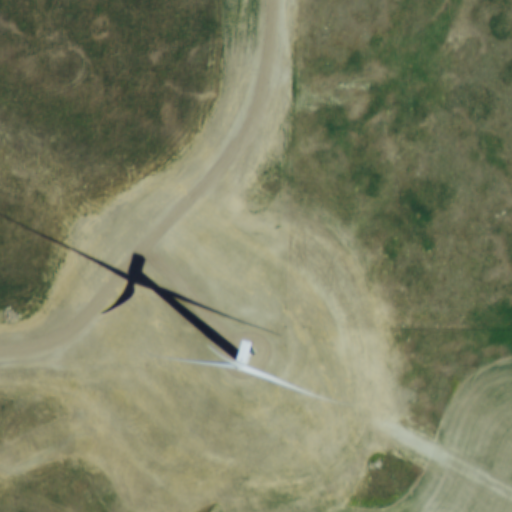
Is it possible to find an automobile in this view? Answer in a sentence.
No, no automobile can be seen from above.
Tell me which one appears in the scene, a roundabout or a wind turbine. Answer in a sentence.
There is a wind turbine in the scene.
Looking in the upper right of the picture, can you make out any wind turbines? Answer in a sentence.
No, the scene shows no wind turbine in the upper right of the picture.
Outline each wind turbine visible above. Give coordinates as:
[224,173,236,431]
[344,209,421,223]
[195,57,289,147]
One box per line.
[155,338,364,407]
